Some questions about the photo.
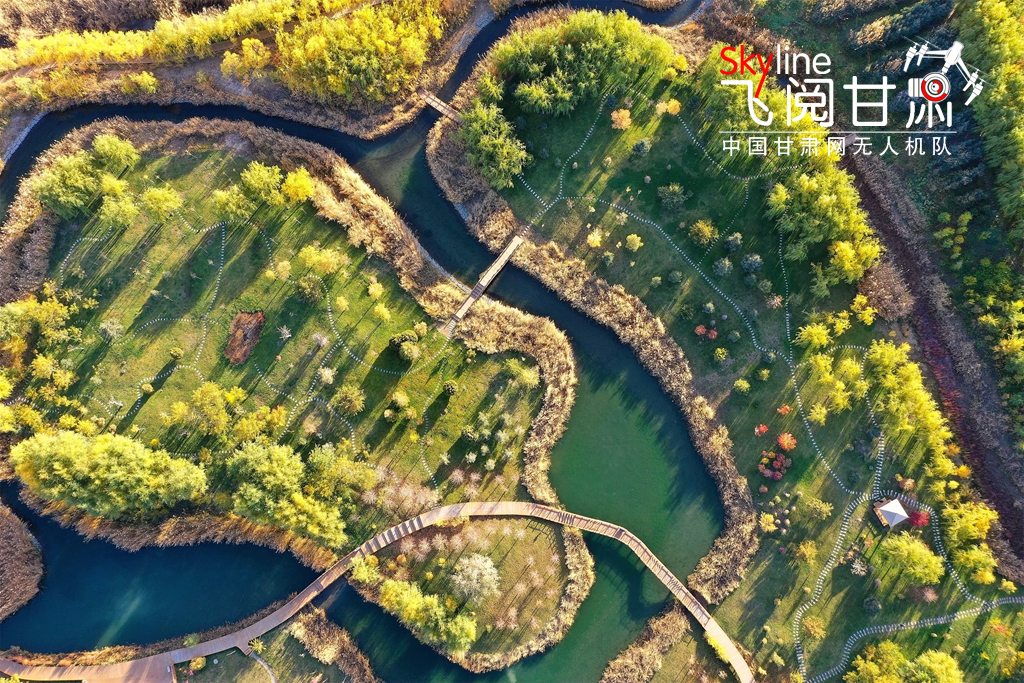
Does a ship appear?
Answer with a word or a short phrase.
No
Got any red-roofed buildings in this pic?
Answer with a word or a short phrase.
No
